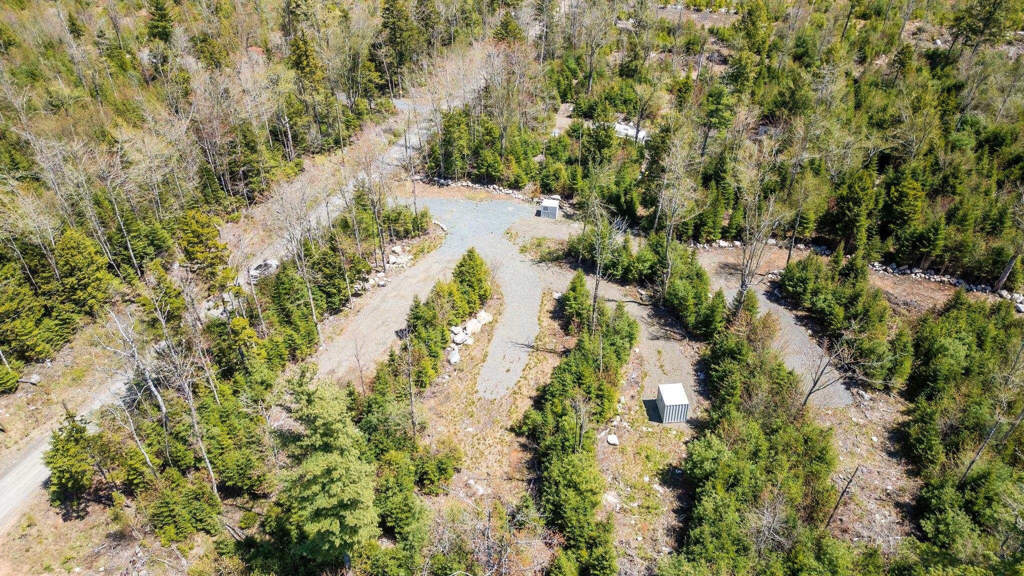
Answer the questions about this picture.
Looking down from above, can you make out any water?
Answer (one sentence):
No, there's no water in this view.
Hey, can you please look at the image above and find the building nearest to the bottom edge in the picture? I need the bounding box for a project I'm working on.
[541,199,558,219]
